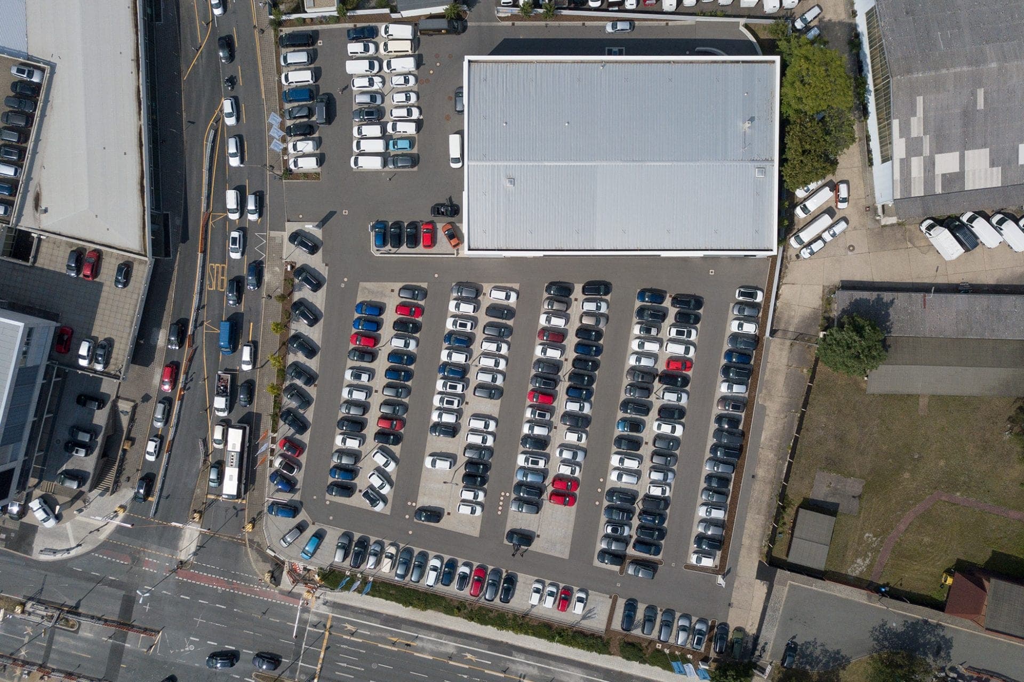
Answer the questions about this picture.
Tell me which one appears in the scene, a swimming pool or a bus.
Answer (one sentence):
This aerial view contains a bus.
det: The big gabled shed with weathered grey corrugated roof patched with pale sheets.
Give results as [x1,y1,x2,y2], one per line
[853,0,1024,220]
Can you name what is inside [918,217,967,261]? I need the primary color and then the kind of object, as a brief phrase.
white truck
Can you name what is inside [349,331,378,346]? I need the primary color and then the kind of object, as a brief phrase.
red car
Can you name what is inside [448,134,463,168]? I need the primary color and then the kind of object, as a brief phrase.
white vehicle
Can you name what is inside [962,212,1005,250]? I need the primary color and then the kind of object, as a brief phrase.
white van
